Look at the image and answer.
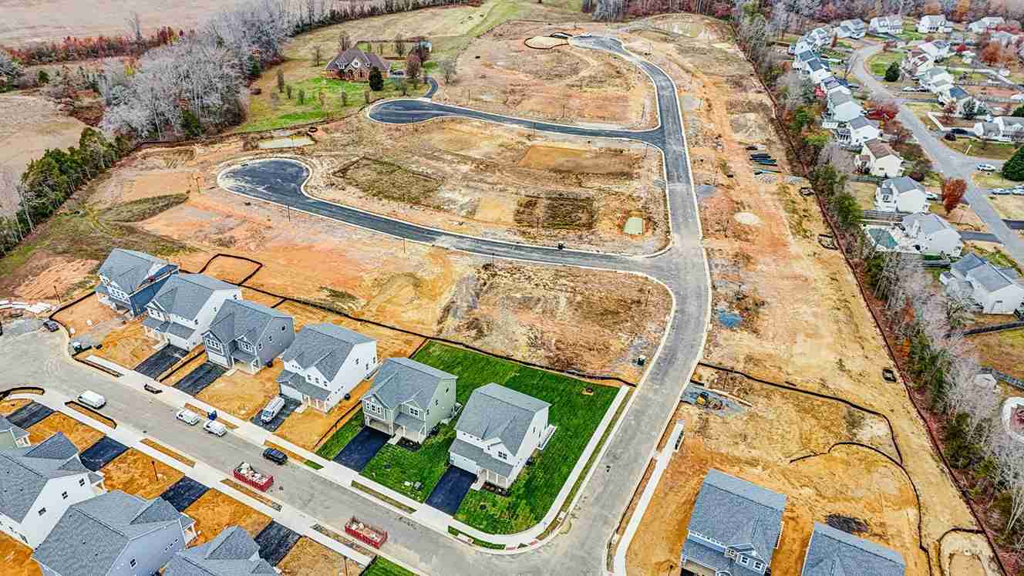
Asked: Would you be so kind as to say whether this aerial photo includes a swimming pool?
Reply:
Yes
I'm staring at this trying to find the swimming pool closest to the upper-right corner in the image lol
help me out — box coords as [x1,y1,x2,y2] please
[863,224,920,251]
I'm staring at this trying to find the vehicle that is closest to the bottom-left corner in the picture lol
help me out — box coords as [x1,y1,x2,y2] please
[75,388,105,409]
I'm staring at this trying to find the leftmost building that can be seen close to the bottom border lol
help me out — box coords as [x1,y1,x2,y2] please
[0,428,117,557]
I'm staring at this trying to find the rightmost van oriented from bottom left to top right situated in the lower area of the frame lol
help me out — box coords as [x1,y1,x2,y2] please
[256,396,287,425]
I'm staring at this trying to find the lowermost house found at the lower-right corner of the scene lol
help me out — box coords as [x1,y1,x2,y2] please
[816,525,926,576]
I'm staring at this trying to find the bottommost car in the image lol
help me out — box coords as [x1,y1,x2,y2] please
[260,448,289,467]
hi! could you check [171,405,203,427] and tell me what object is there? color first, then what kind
white vehicle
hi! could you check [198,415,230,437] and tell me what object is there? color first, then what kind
white vehicle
